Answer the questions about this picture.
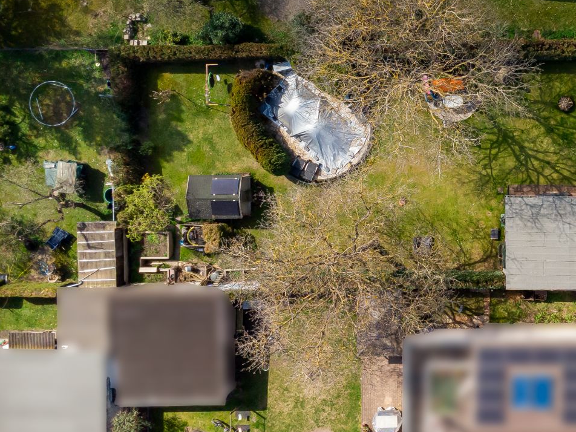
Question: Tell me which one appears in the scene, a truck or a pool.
pool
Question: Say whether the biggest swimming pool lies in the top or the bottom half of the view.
top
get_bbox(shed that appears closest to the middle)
[184,176,252,219]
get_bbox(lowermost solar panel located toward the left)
[210,201,238,217]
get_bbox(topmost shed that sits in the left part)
[46,161,96,193]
